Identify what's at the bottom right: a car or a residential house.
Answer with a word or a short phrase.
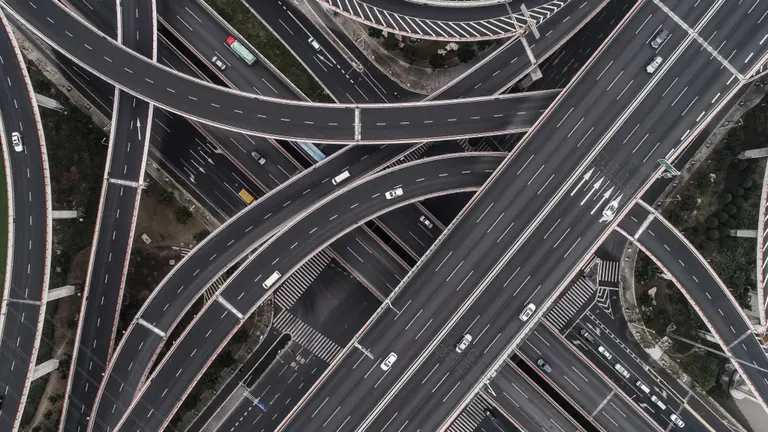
car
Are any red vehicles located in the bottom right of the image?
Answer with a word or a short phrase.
No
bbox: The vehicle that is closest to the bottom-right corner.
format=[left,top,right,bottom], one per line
[670,413,687,429]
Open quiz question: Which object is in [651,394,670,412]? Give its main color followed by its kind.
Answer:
white vehicle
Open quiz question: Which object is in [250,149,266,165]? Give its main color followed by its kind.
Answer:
gray car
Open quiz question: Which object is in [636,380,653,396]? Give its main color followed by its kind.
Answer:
white vehicle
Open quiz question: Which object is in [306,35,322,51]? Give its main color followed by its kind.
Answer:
white car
